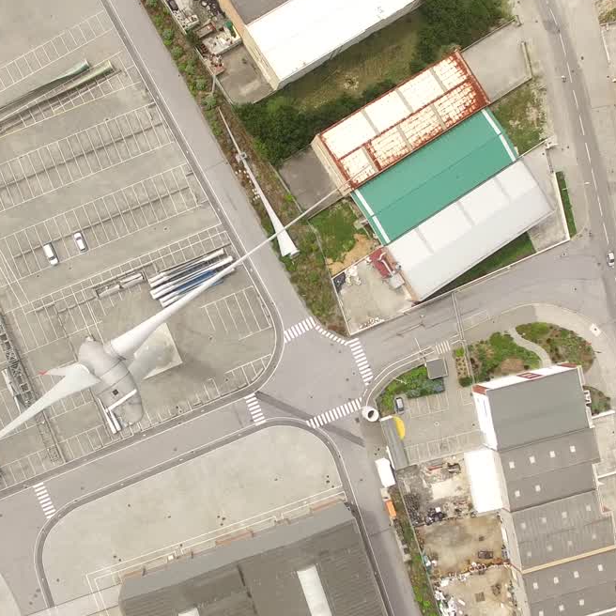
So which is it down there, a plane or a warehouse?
warehouse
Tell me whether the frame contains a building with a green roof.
Yes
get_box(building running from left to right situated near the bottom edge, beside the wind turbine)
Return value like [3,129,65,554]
[120,505,385,616]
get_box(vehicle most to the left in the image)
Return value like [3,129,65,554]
[41,243,59,265]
